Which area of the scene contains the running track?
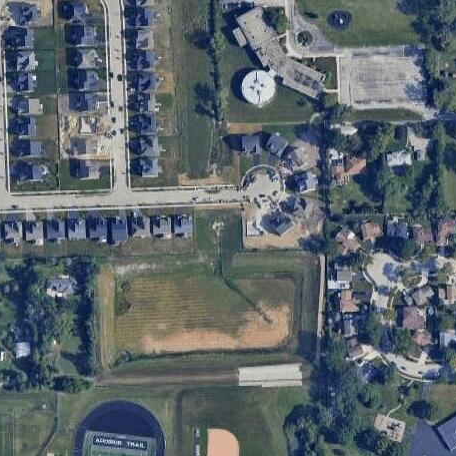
bottom left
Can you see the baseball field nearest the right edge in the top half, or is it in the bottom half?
bottom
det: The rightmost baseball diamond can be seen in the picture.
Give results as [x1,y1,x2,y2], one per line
[198,417,257,456]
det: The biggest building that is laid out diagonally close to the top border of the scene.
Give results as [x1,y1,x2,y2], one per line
[233,7,325,98]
